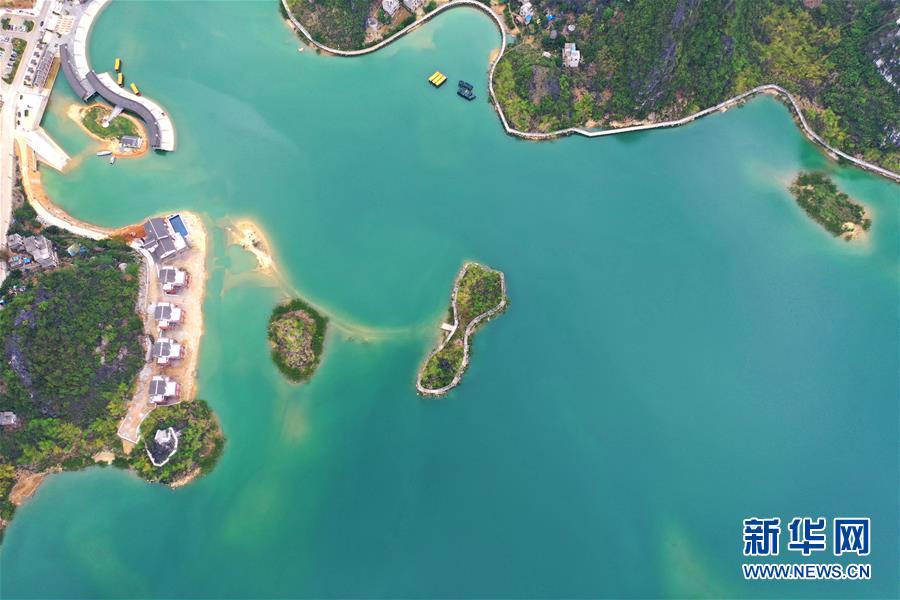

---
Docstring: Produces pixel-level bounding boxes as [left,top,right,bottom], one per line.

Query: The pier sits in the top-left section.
[95,73,176,150]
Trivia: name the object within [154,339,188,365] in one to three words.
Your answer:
house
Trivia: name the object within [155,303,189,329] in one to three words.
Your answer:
house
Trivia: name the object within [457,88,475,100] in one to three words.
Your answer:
boat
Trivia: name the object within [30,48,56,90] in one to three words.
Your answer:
building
